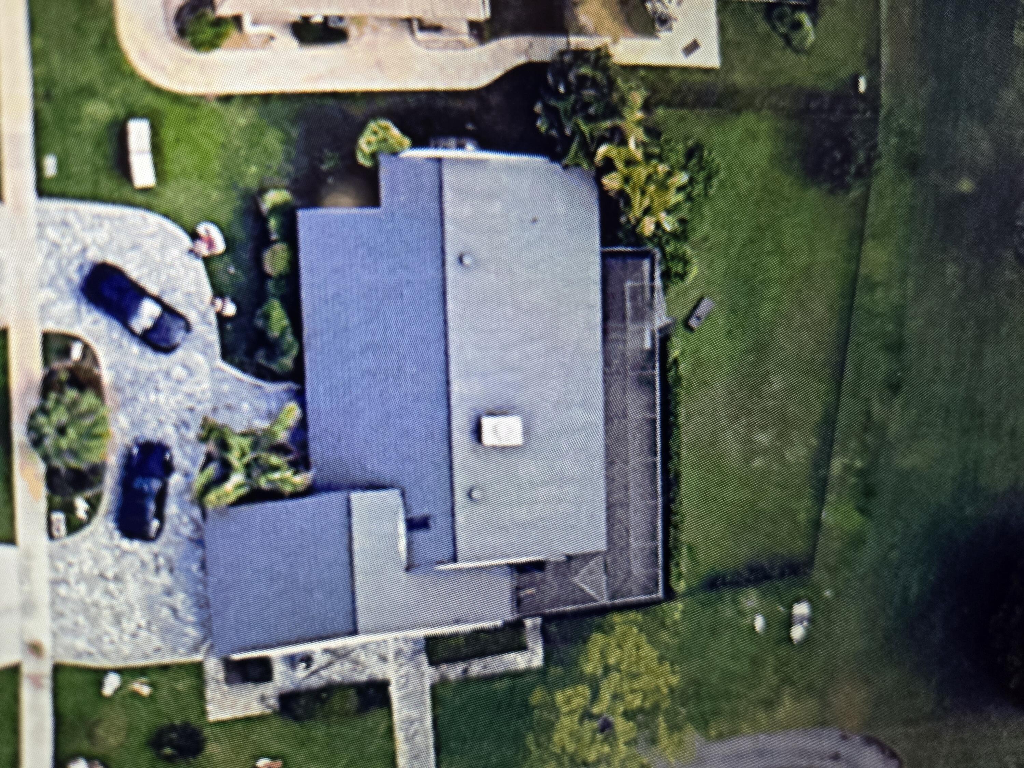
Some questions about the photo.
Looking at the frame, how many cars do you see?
two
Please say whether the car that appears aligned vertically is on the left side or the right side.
left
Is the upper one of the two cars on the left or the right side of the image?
left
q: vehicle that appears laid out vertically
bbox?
[118,440,173,545]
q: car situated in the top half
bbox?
[77,255,196,353]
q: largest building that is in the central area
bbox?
[206,152,607,663]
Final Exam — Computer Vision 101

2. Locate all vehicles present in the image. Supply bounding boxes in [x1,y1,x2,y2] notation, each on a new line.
[77,255,196,353]
[118,440,173,545]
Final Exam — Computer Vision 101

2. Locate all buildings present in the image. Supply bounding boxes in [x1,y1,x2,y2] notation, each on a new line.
[206,152,607,663]
[218,0,495,48]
